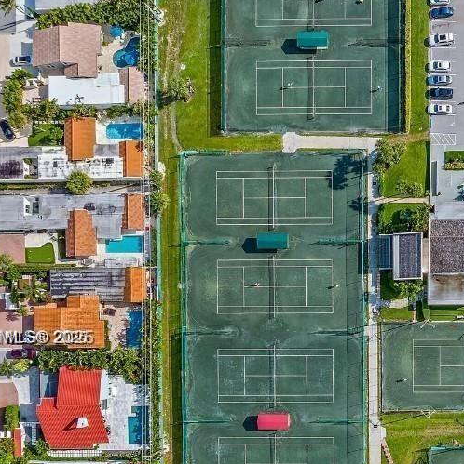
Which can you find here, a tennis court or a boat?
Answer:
tennis court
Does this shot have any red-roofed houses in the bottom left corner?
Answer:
Yes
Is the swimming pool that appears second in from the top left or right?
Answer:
left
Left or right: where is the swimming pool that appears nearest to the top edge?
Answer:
left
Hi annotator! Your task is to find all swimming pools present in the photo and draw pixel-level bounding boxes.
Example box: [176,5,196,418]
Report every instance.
[111,34,144,68]
[126,404,145,446]
[105,234,146,253]
[104,119,146,142]
[126,307,143,349]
